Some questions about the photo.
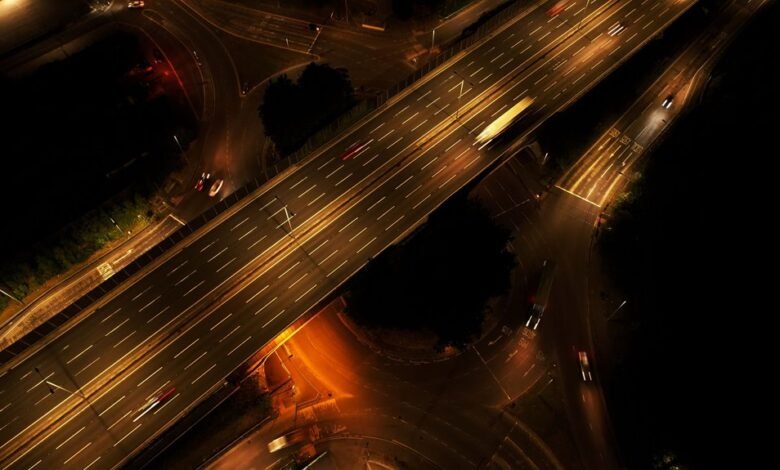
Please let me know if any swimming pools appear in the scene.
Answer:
No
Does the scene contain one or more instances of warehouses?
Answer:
No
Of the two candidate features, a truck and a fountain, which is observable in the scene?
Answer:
truck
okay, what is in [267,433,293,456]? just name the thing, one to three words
vehicle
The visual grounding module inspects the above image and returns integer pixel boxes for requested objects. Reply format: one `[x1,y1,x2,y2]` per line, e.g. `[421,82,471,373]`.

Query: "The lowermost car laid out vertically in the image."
[580,356,592,376]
